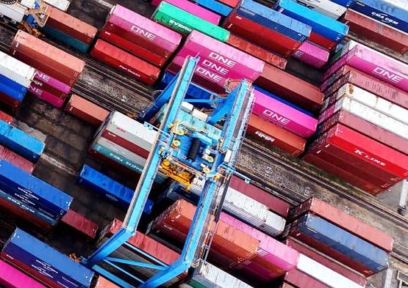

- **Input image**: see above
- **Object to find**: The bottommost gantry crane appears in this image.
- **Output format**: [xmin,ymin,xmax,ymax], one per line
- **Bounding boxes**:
[59,48,259,288]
